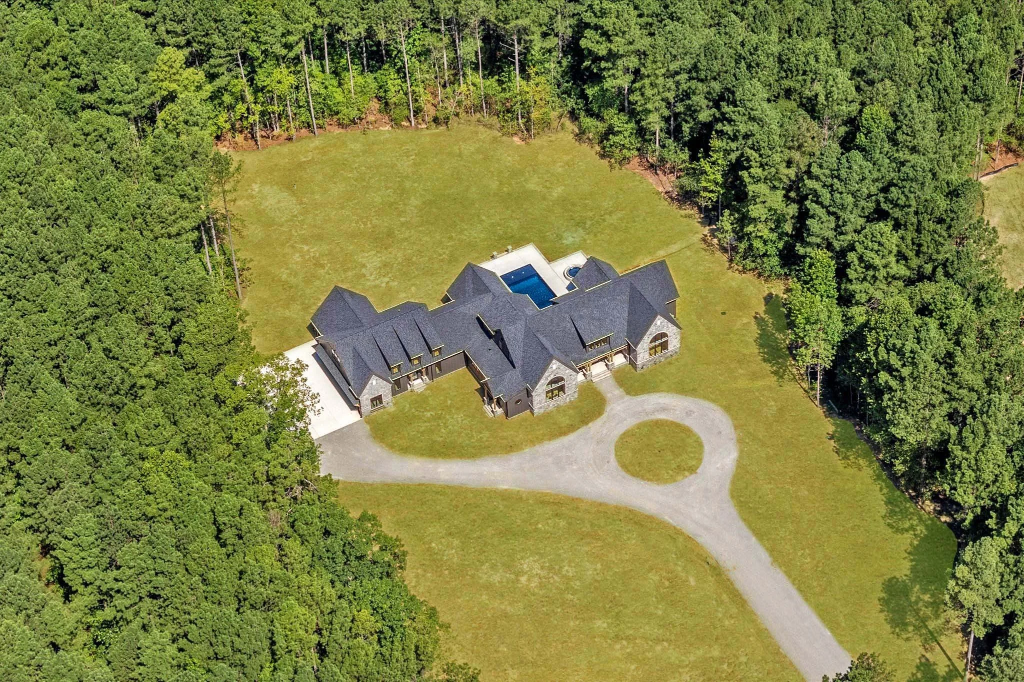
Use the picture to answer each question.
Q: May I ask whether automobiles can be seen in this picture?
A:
No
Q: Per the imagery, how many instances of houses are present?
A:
1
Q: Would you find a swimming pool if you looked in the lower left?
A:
No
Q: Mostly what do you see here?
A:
trees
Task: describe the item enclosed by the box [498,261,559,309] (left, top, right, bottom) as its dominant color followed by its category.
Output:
blue swimming pool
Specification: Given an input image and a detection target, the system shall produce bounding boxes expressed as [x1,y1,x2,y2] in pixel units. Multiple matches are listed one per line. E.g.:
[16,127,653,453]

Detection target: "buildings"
[309,255,684,419]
